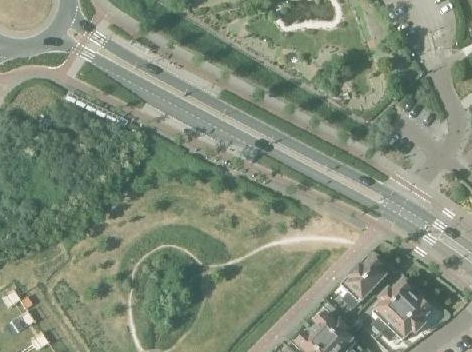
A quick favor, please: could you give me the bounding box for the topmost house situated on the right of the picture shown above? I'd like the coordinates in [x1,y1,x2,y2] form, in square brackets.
[334,253,391,301]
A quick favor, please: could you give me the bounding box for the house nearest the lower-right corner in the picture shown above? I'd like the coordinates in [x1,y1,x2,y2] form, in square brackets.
[369,279,431,340]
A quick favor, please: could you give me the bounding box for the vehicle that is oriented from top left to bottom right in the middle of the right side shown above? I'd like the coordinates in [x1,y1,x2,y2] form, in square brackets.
[358,174,374,187]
